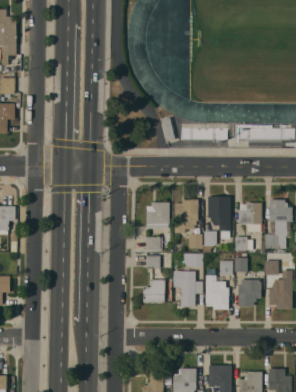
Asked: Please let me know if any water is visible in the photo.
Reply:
No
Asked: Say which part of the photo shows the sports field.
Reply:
top right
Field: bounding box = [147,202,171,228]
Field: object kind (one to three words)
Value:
house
